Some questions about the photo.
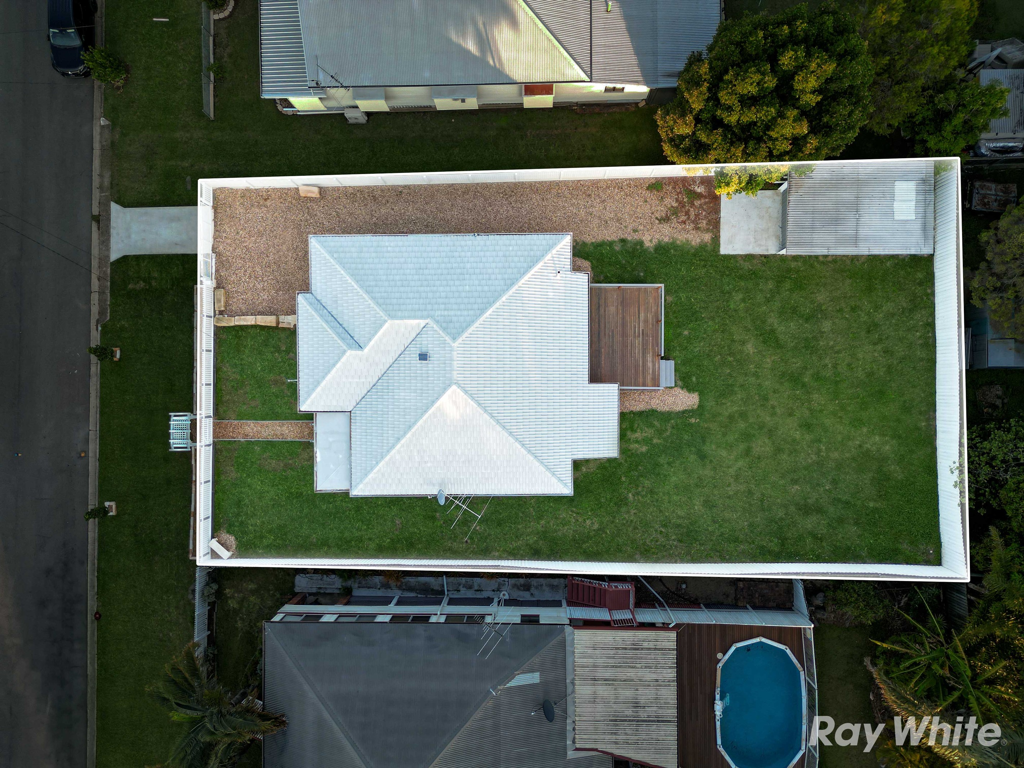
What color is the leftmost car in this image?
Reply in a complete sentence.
The leftmost car looks black in the image.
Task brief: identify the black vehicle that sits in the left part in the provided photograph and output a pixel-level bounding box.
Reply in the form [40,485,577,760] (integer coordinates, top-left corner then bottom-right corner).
[43,0,99,86]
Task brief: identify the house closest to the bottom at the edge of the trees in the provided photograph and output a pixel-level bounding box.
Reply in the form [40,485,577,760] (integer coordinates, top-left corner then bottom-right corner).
[262,575,612,768]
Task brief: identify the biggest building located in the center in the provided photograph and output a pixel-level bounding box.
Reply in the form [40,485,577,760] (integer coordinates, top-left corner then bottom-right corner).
[295,232,621,498]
